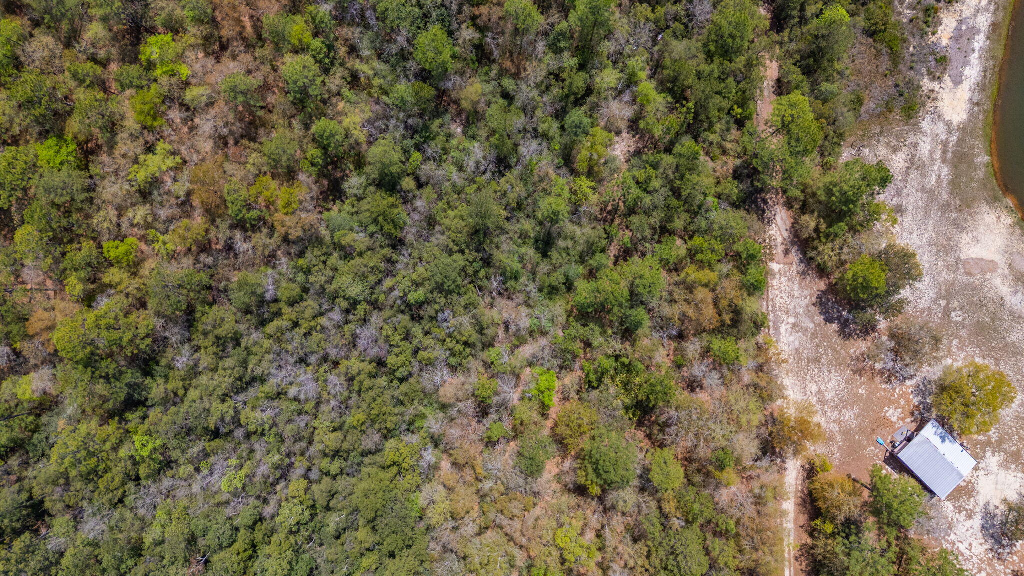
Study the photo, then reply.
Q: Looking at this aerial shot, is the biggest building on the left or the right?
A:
right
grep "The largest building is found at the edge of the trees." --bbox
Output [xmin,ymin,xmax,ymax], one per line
[887,419,977,500]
